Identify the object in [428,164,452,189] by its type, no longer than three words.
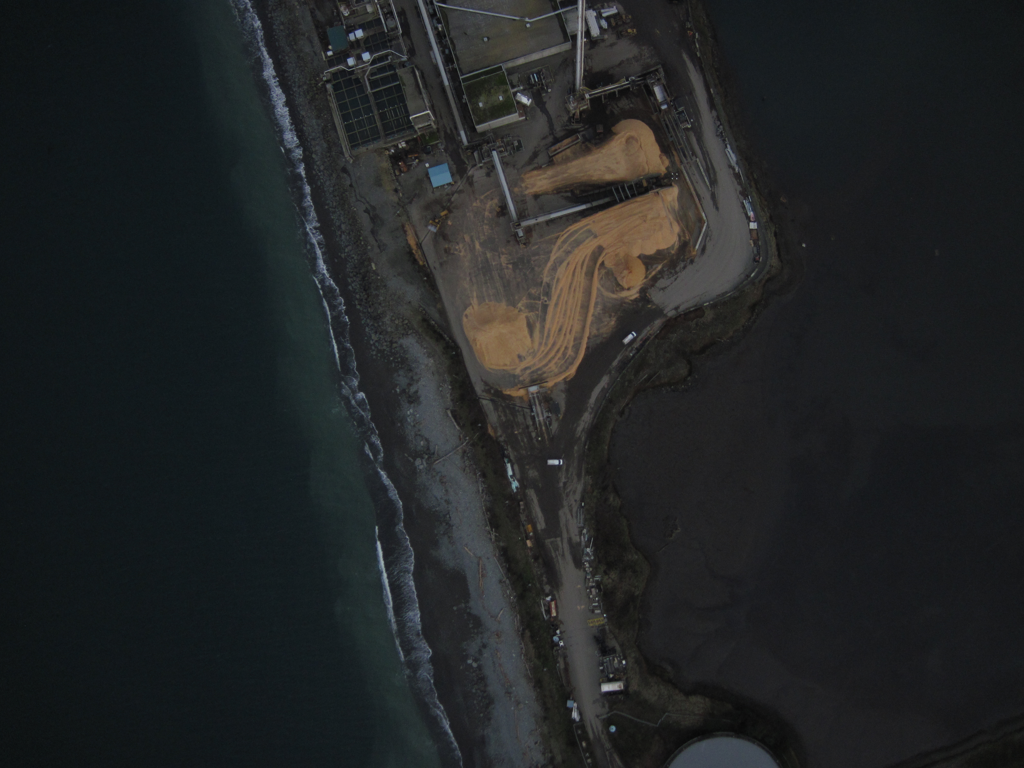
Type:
shed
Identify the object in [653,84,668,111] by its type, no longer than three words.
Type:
vehicle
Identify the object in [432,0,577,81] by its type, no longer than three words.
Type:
building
